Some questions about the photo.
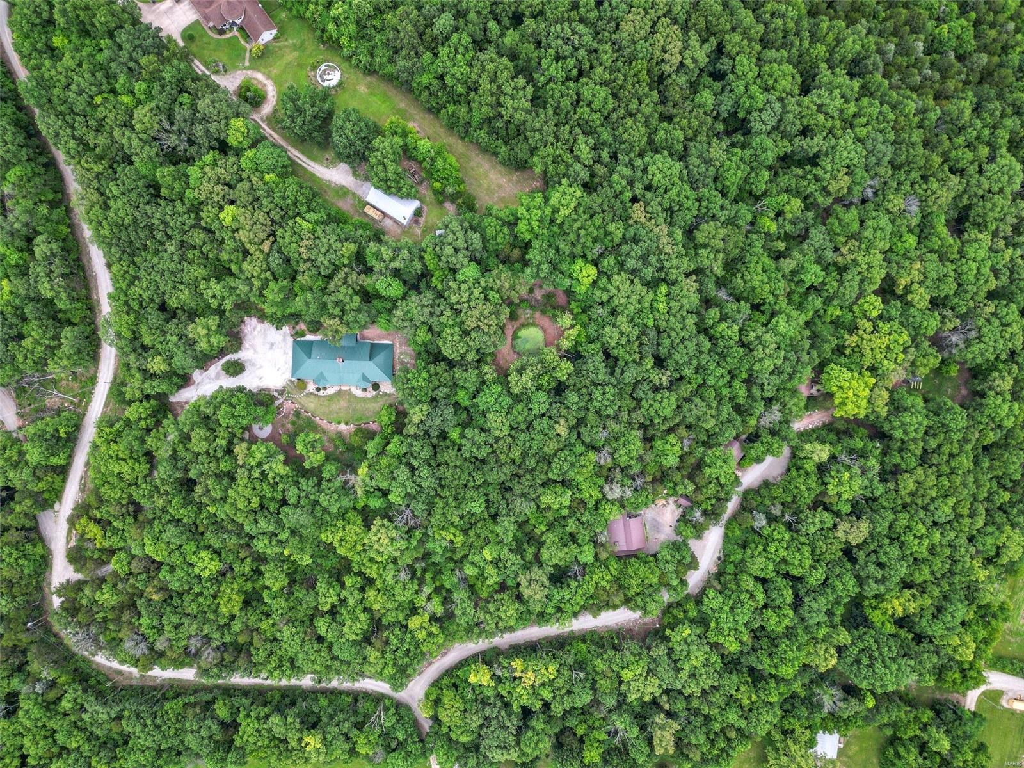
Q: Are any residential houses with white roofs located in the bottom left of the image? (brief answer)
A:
No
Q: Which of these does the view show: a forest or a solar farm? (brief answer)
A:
forest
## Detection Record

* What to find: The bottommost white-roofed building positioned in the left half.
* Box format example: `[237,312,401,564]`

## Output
[366,184,421,226]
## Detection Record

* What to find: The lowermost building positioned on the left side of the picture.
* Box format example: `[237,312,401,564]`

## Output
[291,332,394,389]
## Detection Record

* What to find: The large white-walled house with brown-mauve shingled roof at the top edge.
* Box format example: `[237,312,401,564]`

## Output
[190,0,279,45]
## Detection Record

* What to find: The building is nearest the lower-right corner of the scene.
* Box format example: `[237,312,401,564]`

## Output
[812,730,845,759]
